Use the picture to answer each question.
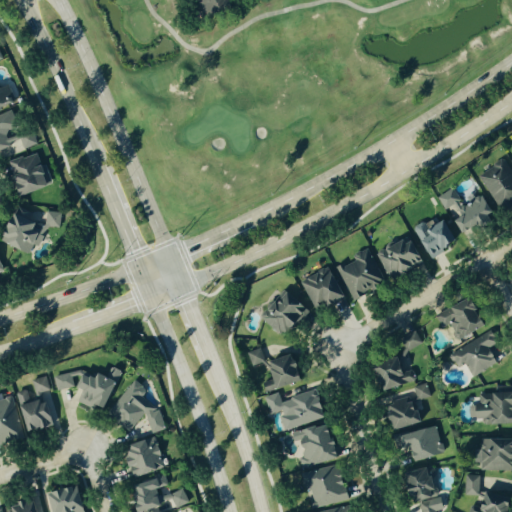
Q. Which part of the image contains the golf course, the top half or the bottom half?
top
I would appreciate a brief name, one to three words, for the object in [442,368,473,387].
swimming pool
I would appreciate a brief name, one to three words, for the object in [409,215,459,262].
house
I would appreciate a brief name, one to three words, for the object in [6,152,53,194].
house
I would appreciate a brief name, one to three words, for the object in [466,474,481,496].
building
